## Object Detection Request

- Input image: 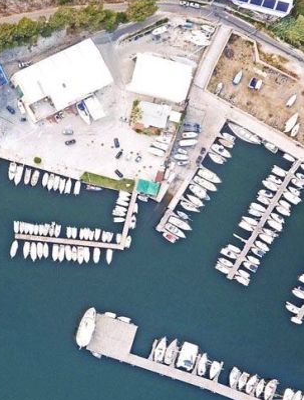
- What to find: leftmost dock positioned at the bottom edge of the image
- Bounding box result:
[87,313,275,400]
